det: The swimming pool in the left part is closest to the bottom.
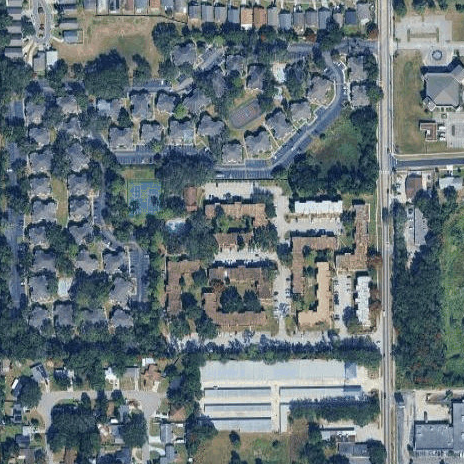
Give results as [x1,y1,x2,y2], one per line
[57,277,71,295]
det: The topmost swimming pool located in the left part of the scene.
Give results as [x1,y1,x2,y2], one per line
[166,217,185,233]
